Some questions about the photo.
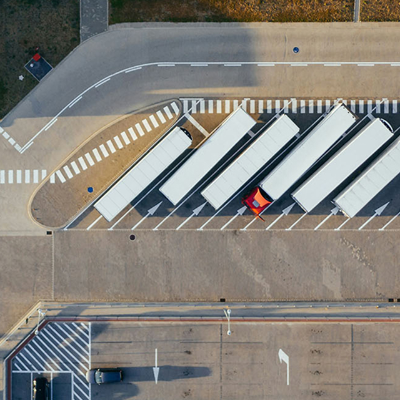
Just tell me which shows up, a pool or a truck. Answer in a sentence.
Of the two, only a truck appears.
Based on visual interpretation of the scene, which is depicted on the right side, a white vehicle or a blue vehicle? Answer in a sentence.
Visible on the right side is a white vehicle.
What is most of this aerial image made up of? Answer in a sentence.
What you mostly see from above here is paved ground.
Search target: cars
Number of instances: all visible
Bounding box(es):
[86,366,123,386]
[31,378,49,400]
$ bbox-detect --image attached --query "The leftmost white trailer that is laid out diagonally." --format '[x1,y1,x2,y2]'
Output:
[92,126,192,223]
